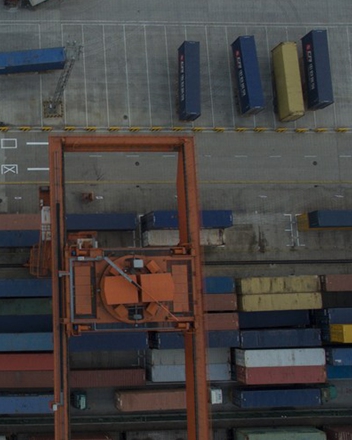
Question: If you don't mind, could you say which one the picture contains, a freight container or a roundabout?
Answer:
freight container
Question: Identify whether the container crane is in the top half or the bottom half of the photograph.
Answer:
bottom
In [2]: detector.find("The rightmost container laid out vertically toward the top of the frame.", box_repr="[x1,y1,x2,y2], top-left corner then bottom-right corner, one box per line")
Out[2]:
[301,30,333,109]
